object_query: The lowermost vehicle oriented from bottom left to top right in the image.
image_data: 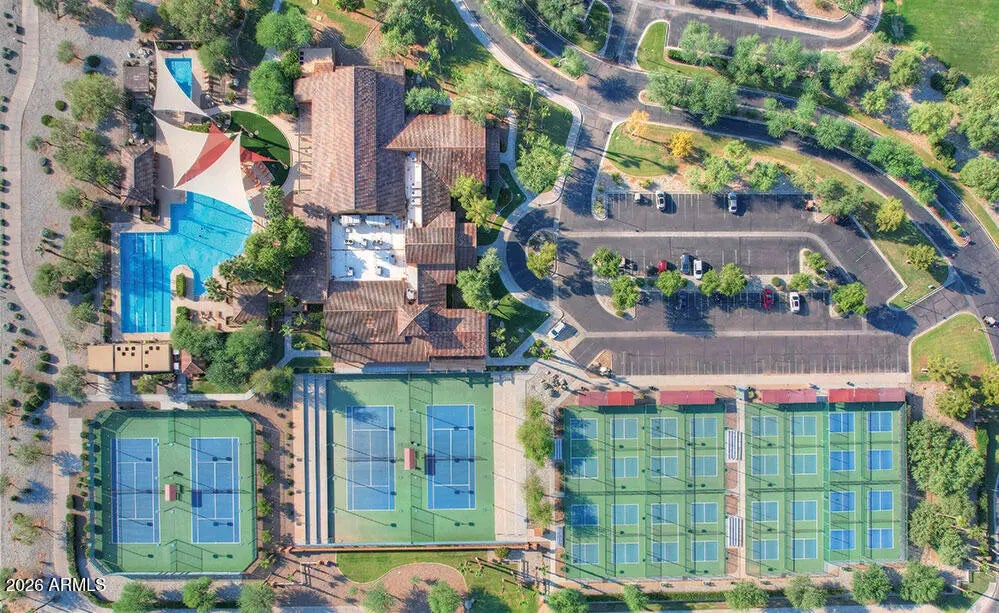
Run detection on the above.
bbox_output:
[546,318,567,338]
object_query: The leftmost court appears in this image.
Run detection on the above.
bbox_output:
[96,412,175,573]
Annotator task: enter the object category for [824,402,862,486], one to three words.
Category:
sports court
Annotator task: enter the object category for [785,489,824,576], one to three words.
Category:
sports court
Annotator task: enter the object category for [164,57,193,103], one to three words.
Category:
swimming pool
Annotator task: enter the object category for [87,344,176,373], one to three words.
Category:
building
